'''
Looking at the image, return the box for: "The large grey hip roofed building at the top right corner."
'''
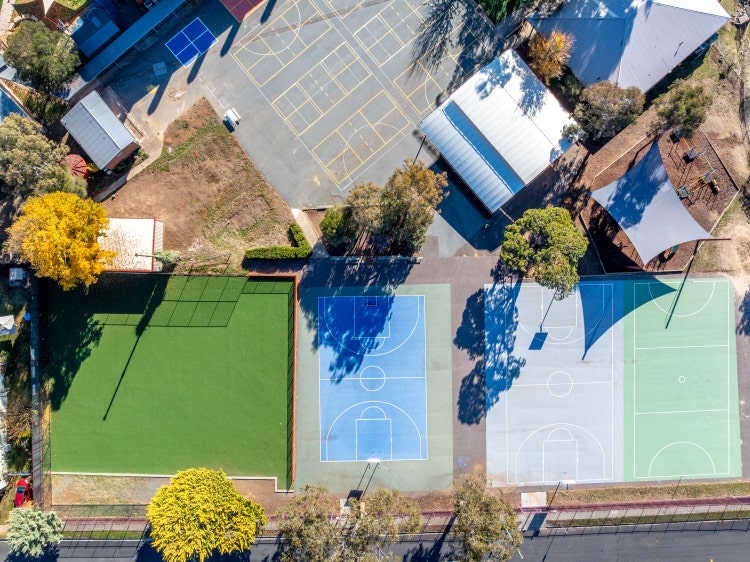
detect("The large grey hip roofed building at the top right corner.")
[525,0,731,95]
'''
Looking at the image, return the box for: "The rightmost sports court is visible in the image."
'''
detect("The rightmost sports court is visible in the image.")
[623,278,741,481]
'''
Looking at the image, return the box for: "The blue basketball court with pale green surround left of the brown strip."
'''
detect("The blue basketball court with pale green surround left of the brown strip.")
[296,284,453,491]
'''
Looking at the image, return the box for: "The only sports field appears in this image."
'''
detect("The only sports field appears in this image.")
[47,276,296,492]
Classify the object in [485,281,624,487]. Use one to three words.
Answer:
basketball court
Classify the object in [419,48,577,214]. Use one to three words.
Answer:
building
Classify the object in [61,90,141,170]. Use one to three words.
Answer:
building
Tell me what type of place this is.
sports ground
